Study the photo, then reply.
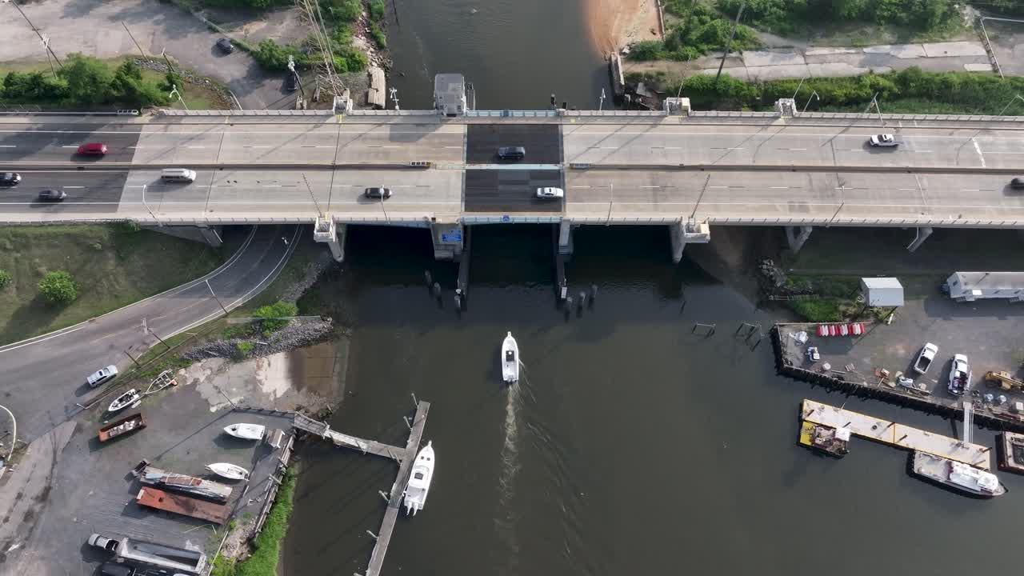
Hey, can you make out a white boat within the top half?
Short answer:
No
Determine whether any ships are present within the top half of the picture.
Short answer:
No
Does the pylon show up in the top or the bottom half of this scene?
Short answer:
top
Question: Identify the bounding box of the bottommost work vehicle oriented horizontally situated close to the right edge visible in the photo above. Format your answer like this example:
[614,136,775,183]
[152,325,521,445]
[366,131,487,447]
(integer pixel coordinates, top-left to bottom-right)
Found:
[984,372,1024,393]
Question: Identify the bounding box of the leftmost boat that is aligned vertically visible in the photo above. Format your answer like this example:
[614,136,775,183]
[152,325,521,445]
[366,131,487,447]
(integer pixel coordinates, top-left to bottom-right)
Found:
[403,441,433,515]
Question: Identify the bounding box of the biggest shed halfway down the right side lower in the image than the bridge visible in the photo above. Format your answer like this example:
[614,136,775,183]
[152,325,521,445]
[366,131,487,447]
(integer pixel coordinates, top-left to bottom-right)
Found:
[848,277,905,319]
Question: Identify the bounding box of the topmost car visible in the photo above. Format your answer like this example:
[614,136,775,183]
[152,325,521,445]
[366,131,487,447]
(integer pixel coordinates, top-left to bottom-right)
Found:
[213,40,236,52]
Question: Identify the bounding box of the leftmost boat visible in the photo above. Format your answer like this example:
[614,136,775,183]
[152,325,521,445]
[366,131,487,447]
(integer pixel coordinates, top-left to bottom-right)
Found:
[107,389,140,413]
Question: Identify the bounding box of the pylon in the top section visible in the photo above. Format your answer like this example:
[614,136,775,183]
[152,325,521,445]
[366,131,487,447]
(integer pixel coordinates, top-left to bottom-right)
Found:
[285,0,343,105]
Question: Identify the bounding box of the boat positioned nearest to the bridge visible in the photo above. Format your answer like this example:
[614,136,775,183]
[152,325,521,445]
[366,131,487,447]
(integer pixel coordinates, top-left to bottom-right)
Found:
[502,333,519,384]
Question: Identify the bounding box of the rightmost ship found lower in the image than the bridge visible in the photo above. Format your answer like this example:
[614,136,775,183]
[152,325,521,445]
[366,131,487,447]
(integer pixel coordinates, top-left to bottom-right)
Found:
[997,432,1024,479]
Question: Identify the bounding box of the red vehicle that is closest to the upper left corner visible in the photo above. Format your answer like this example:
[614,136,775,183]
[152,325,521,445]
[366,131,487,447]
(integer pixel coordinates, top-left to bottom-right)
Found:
[76,144,105,157]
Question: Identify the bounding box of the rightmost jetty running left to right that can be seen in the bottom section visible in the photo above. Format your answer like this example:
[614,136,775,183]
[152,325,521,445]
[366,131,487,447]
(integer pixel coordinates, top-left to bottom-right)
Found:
[797,399,997,467]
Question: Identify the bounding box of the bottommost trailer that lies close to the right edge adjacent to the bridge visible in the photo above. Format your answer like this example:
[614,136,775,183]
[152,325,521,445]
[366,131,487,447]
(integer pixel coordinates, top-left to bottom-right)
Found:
[938,271,1024,303]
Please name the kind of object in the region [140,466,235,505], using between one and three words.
ship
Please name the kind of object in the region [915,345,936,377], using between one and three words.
truck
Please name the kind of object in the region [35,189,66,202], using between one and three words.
vehicle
